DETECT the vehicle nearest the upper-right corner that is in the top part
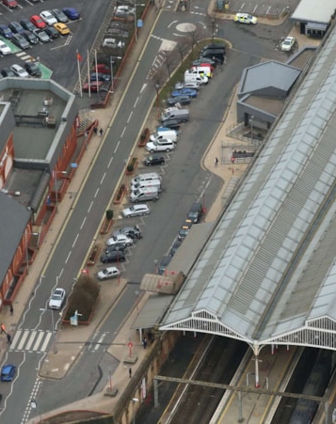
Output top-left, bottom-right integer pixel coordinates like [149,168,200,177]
[282,36,294,50]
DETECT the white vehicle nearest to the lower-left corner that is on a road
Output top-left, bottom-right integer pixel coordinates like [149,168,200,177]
[48,289,64,308]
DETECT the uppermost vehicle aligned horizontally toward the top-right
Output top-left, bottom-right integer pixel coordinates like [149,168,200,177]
[232,11,259,25]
